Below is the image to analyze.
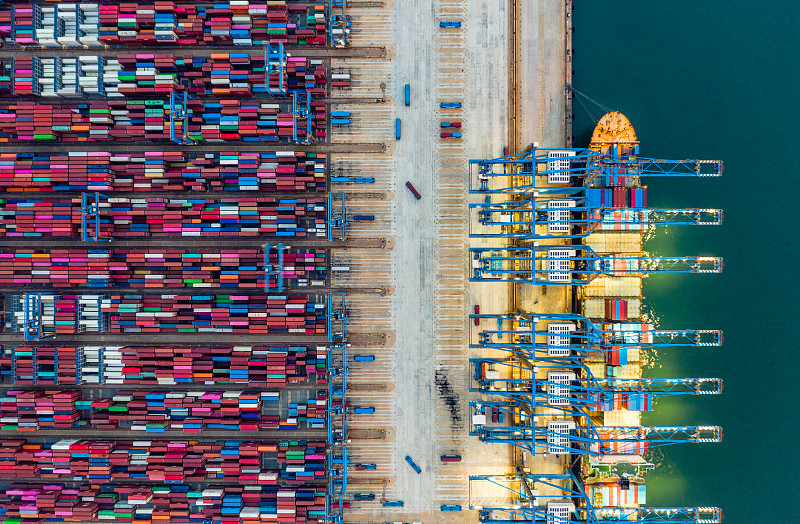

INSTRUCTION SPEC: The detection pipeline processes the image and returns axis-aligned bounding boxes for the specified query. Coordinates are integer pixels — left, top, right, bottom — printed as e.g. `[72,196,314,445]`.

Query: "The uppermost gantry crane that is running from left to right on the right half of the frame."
[470,141,724,200]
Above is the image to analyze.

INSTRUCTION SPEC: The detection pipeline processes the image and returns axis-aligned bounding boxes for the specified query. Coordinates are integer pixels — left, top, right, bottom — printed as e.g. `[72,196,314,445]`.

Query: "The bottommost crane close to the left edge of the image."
[17,291,60,340]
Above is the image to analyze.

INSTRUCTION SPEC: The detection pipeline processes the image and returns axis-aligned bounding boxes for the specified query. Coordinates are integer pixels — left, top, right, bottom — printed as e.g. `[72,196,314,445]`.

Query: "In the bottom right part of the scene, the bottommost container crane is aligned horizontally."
[470,462,724,524]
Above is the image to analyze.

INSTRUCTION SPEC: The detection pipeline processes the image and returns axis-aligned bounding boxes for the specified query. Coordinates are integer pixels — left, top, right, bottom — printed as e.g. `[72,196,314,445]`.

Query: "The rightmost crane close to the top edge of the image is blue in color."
[324,0,352,48]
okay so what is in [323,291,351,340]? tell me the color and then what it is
blue crane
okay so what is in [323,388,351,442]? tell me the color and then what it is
blue crane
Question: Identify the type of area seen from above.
port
